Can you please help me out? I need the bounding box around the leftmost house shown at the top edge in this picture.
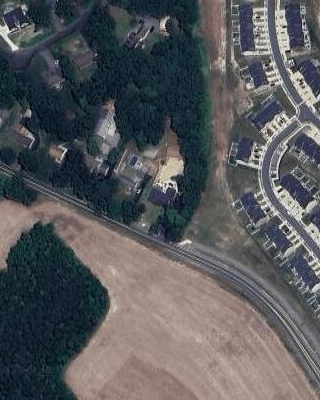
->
[8,7,29,31]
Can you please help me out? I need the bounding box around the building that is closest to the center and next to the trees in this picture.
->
[150,186,177,209]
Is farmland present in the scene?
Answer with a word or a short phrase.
Yes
